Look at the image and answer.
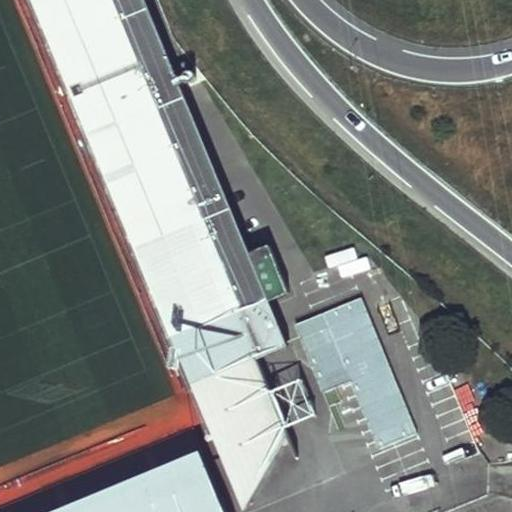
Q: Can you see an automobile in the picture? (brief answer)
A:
Yes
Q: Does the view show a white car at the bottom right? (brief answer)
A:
Yes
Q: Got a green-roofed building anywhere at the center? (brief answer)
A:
Yes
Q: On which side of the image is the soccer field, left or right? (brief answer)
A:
left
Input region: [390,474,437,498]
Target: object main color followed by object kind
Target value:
white truck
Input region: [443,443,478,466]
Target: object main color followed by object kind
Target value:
white vehicle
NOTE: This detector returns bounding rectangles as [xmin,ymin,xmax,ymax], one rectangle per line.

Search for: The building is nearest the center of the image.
[250,246,286,300]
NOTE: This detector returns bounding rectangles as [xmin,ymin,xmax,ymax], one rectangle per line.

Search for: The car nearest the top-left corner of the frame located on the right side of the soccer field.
[226,190,245,204]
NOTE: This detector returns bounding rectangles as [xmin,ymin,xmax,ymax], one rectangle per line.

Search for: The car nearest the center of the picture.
[239,218,260,232]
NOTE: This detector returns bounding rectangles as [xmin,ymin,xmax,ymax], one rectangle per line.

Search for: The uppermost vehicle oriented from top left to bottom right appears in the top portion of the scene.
[345,110,366,130]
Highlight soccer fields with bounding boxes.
[0,0,174,467]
